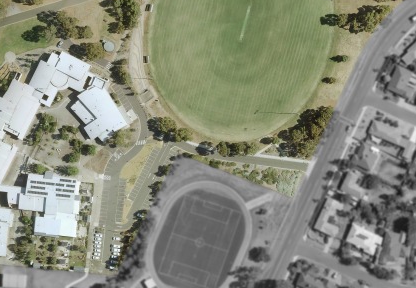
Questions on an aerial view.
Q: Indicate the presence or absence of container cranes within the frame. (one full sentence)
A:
No, the picture doesn't show any container crane.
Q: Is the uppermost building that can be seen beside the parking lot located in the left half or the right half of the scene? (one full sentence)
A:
The uppermost building that can be seen beside the parking lot sits on the left side.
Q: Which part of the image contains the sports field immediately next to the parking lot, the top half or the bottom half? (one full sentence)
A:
Seen from above, the sports field immediately next to the parking lot lies in the bottom half of the view.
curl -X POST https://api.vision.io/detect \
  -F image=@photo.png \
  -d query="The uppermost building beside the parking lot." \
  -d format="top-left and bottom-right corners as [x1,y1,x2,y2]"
[28,50,90,108]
